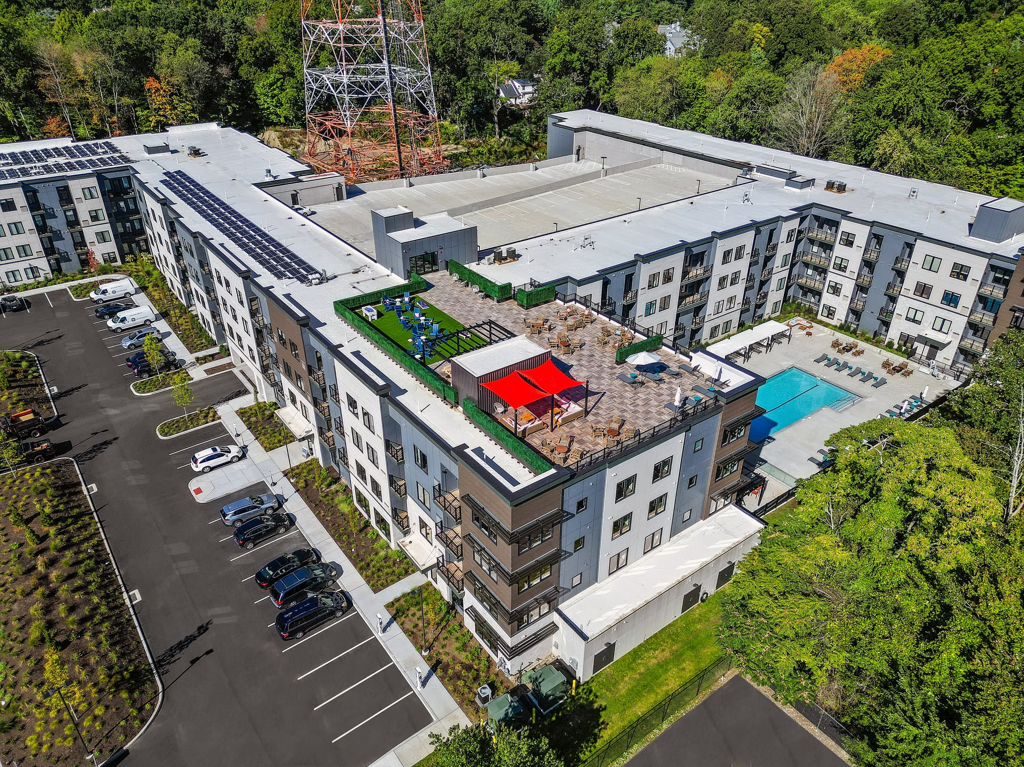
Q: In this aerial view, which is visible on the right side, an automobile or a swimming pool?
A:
swimming pool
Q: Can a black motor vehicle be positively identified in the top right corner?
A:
No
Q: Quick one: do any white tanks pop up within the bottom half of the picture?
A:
No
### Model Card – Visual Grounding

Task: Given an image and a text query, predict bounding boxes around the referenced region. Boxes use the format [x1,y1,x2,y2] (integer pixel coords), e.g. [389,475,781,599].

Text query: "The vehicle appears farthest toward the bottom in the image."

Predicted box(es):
[273,589,351,643]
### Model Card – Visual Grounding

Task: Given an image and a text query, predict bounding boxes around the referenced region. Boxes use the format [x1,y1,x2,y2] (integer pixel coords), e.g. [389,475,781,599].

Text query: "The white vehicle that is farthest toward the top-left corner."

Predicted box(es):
[87,277,138,304]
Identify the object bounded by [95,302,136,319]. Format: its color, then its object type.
black car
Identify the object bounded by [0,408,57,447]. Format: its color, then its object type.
black truck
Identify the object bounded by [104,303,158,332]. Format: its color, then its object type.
white van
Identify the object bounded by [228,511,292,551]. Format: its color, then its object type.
black car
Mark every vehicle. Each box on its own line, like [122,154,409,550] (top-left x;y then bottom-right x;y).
[273,589,351,643]
[186,443,244,474]
[118,324,162,349]
[104,303,158,332]
[95,302,136,319]
[0,432,53,473]
[87,277,138,304]
[266,560,341,609]
[228,511,292,551]
[131,355,179,377]
[216,492,279,530]
[0,294,21,312]
[0,408,57,447]
[250,545,319,589]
